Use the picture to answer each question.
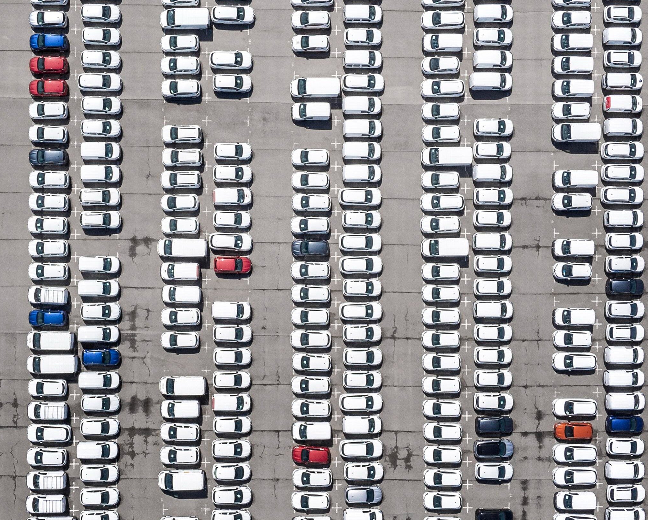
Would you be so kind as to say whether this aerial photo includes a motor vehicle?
Yes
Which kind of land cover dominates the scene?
paved ground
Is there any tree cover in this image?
No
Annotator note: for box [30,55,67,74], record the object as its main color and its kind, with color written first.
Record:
red car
